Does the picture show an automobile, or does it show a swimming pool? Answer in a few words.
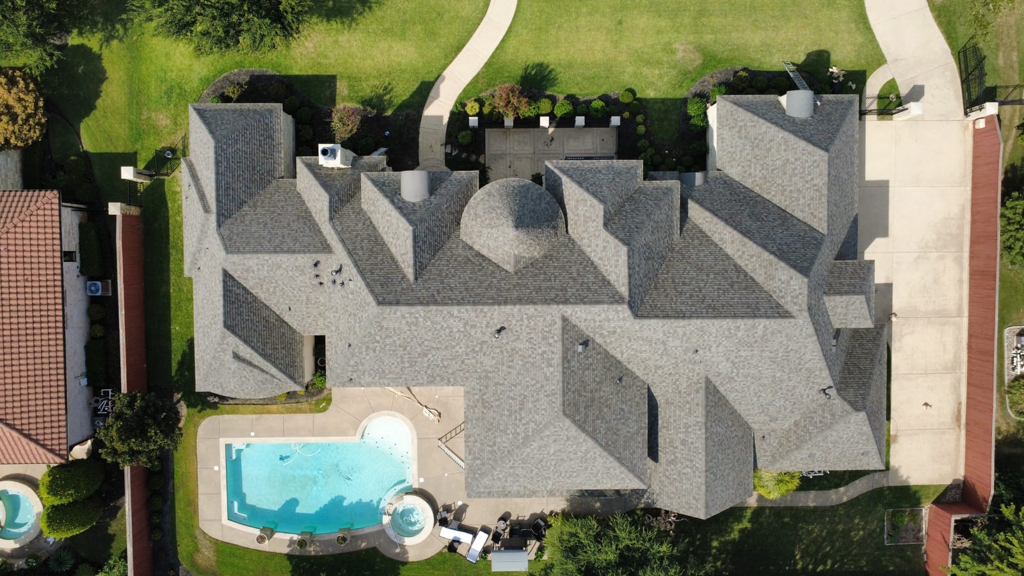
swimming pool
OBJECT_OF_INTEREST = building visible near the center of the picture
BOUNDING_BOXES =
[181,83,887,516]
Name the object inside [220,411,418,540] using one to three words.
swimming pool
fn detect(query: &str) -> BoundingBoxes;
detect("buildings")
[181,83,887,516]
[0,188,94,466]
